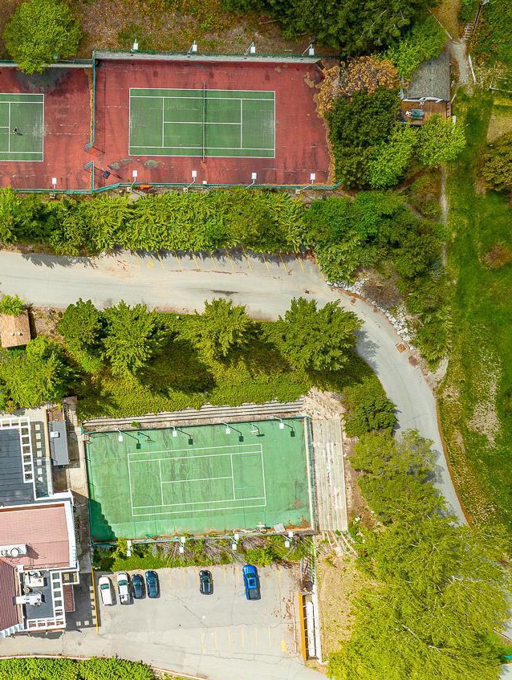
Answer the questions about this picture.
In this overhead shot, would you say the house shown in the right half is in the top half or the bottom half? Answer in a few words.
top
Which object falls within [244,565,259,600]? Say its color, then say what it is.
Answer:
blue vehicle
